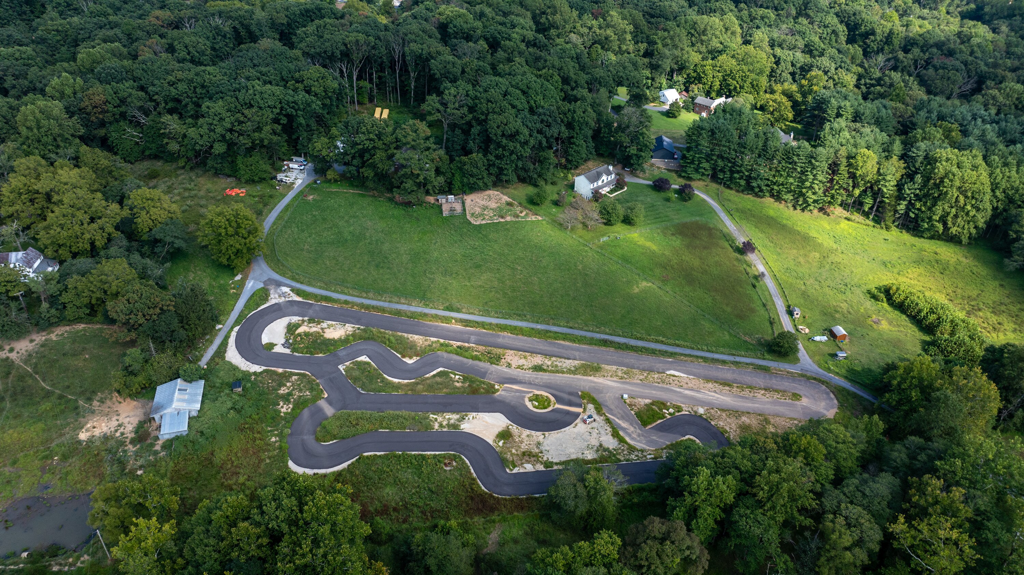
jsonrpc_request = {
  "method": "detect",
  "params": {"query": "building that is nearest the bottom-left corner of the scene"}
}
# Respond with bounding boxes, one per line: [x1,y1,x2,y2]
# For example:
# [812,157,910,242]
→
[150,374,207,439]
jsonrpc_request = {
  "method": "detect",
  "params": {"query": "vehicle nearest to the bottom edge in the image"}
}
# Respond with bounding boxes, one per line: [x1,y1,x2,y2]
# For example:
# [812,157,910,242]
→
[582,410,597,423]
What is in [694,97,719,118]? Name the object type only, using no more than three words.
house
